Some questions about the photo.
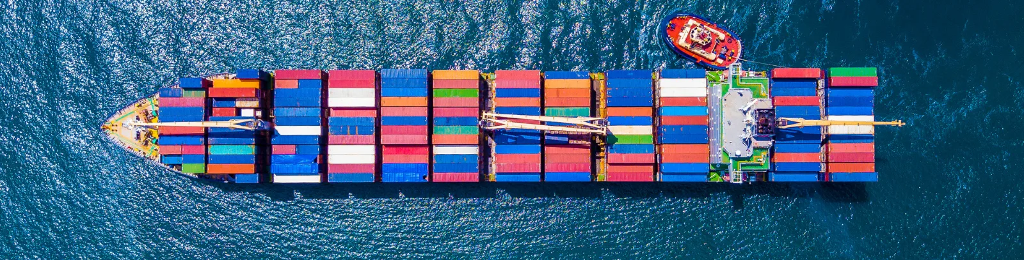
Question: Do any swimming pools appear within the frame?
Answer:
No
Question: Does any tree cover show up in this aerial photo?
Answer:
No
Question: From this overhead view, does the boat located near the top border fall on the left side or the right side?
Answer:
right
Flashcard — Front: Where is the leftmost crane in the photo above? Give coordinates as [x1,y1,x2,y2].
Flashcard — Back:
[131,118,283,131]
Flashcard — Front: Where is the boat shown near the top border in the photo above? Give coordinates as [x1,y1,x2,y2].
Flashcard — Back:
[661,12,746,70]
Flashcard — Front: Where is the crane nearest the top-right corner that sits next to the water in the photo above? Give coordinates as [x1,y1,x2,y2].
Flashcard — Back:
[774,114,907,129]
